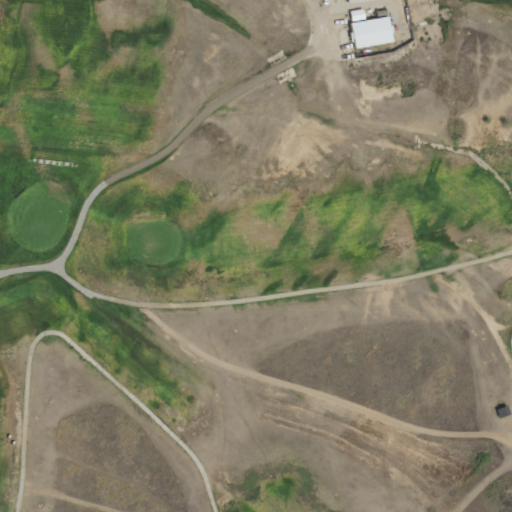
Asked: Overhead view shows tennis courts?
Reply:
No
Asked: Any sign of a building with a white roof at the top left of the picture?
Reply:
No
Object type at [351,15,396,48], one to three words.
building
